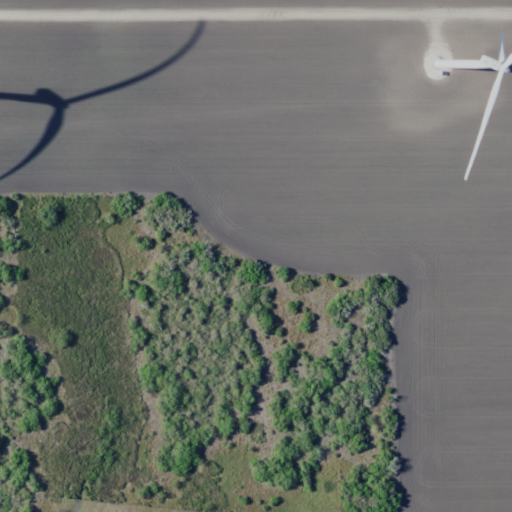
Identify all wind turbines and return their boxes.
[432,33,512,183]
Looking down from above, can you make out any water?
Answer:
No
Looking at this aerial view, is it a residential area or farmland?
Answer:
farmland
